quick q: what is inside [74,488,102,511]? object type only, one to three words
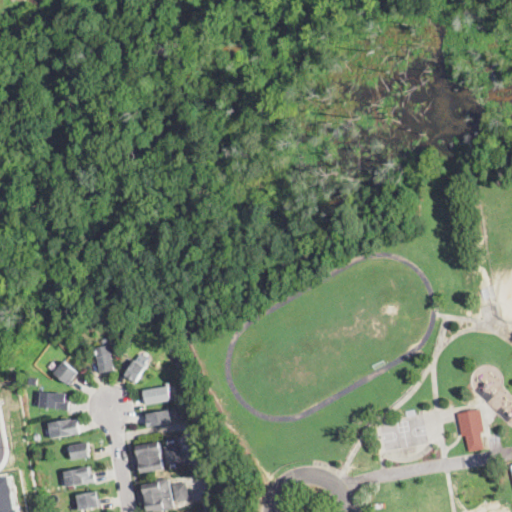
house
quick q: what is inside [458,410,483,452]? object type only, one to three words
building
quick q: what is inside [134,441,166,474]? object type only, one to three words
house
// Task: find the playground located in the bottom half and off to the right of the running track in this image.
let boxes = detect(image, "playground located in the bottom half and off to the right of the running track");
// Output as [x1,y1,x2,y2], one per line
[470,362,512,426]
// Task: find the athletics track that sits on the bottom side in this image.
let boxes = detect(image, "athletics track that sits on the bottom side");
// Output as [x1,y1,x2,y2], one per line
[226,253,436,422]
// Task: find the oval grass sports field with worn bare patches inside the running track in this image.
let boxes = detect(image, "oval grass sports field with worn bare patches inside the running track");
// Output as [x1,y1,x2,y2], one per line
[231,258,432,416]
